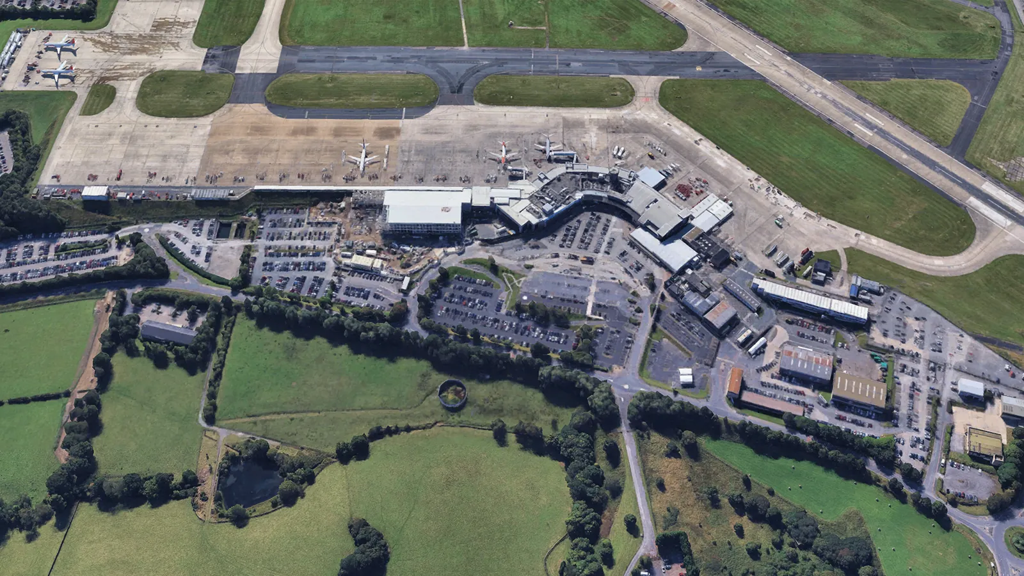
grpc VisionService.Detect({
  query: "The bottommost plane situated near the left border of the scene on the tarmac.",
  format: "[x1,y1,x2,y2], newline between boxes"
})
[43,60,74,83]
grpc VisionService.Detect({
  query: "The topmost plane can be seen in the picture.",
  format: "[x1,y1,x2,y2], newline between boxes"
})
[44,32,75,55]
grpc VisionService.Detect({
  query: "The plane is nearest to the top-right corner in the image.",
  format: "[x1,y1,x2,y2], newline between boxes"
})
[533,133,562,161]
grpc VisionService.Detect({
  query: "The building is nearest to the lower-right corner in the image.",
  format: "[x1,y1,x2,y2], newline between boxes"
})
[966,427,1003,457]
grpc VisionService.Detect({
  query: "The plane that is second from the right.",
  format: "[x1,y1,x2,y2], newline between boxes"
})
[489,142,518,167]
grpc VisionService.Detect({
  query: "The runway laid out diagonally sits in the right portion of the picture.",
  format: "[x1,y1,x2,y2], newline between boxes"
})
[649,0,1024,241]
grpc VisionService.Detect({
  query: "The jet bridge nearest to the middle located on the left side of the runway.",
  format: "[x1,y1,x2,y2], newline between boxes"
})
[506,166,526,179]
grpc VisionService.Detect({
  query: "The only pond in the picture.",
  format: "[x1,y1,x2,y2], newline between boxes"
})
[219,460,282,508]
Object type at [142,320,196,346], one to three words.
barn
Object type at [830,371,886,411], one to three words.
building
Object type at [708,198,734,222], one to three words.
shed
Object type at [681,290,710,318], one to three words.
hangar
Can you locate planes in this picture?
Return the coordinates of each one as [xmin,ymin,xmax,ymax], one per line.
[533,133,562,161]
[44,32,75,55]
[43,60,74,83]
[347,143,378,175]
[489,142,518,167]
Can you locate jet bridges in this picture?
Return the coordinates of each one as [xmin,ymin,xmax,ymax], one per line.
[549,152,577,163]
[506,166,526,179]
